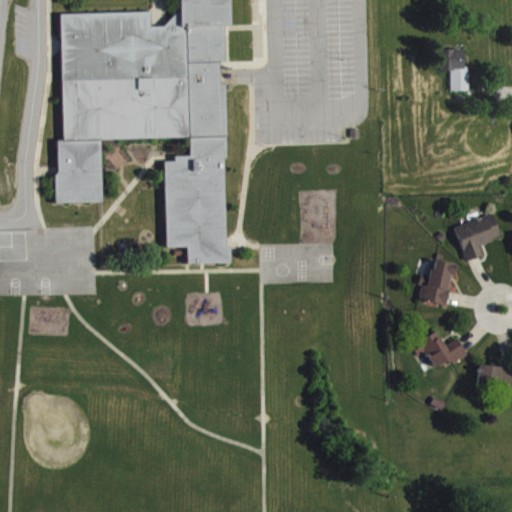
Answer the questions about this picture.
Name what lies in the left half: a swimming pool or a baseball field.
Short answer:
baseball field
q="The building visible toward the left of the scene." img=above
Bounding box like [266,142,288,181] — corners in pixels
[54,0,232,263]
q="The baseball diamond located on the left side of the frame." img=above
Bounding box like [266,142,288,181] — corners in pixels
[22,391,90,468]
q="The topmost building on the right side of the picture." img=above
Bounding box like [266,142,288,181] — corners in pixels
[448,49,470,92]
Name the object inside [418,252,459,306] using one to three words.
house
